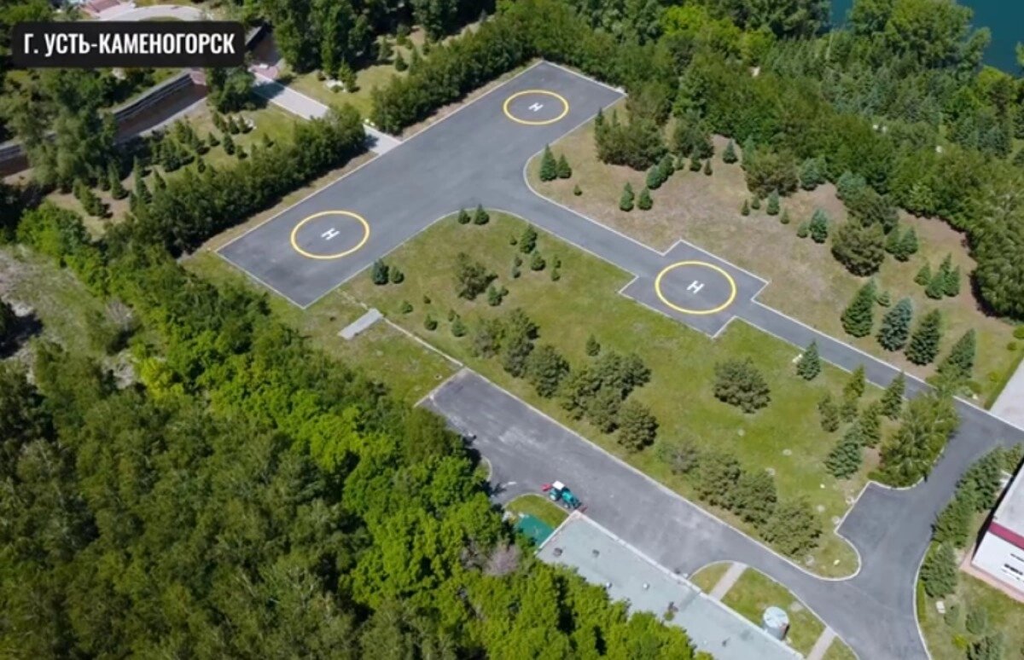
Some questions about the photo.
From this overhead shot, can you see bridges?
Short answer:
No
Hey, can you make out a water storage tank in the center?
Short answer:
No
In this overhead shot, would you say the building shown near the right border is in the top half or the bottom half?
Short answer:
bottom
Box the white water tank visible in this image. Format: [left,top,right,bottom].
[765,603,795,639]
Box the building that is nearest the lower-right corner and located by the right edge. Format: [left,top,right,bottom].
[971,472,1024,594]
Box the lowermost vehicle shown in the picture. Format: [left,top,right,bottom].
[542,482,583,516]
